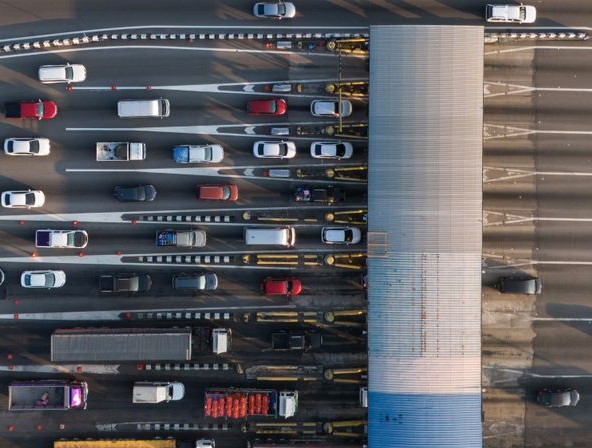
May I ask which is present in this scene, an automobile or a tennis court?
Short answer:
automobile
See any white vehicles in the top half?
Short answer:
Yes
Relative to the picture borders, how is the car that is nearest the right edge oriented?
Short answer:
from side to side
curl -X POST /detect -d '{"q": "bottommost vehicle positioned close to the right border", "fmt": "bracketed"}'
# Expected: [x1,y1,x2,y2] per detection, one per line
[537,388,579,408]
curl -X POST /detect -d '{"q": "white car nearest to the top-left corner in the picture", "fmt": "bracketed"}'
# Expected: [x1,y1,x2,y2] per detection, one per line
[38,62,88,85]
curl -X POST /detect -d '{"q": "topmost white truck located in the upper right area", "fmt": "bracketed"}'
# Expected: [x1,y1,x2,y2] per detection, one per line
[486,1,535,25]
